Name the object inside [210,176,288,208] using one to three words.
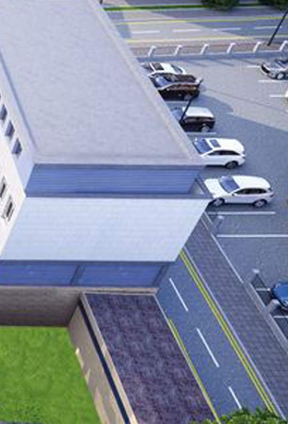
car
